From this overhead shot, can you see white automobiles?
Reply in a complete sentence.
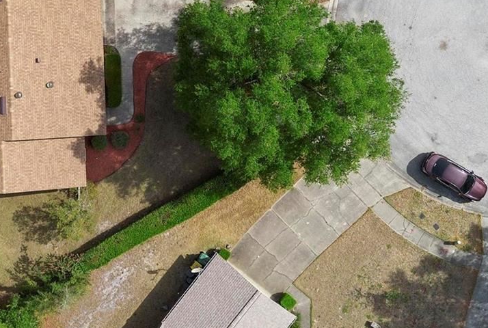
No, no white automobile can be seen from above.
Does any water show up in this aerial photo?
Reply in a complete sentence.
No, water can't be seen anywhere here.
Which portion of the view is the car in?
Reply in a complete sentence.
You can find the car in the right area of the picture.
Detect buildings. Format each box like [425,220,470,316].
[146,252,298,328]
[0,0,106,194]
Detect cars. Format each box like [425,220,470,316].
[416,151,487,202]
